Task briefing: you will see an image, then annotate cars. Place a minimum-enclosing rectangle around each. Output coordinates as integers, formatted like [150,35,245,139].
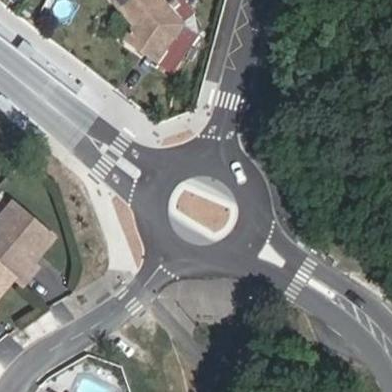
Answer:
[232,162,245,184]
[346,288,366,306]
[116,340,136,358]
[126,68,140,89]
[30,280,50,298]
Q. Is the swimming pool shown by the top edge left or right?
left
